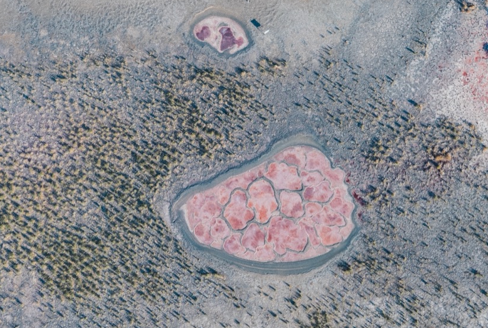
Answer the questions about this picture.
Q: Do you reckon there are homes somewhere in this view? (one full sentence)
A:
No, I find no home anywhere in the image.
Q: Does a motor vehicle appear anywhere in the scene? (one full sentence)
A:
No, there is no motor vehicle in the image.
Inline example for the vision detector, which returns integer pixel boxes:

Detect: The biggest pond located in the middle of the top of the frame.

[189,11,253,55]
